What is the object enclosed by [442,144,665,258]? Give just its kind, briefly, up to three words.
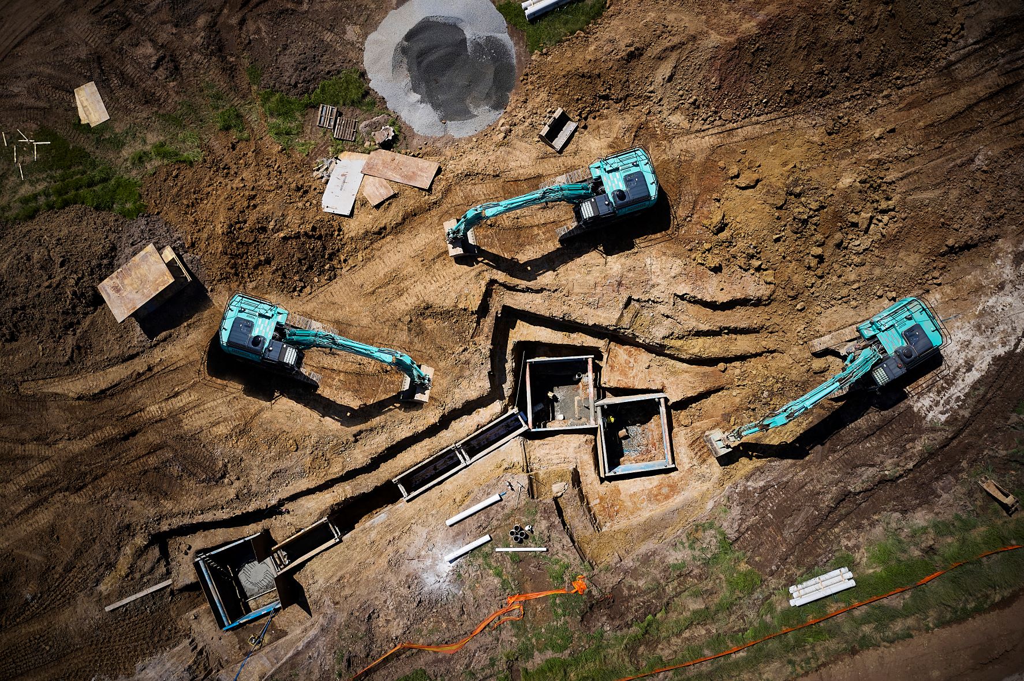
work vehicle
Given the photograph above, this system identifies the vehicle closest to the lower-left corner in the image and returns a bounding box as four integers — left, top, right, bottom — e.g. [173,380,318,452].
[208,296,438,399]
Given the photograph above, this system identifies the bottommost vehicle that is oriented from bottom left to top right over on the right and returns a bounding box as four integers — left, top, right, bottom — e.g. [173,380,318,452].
[705,302,952,464]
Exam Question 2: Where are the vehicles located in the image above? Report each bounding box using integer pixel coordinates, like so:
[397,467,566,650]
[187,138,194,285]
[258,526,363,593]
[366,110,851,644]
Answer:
[442,144,665,258]
[208,296,438,399]
[705,302,952,464]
